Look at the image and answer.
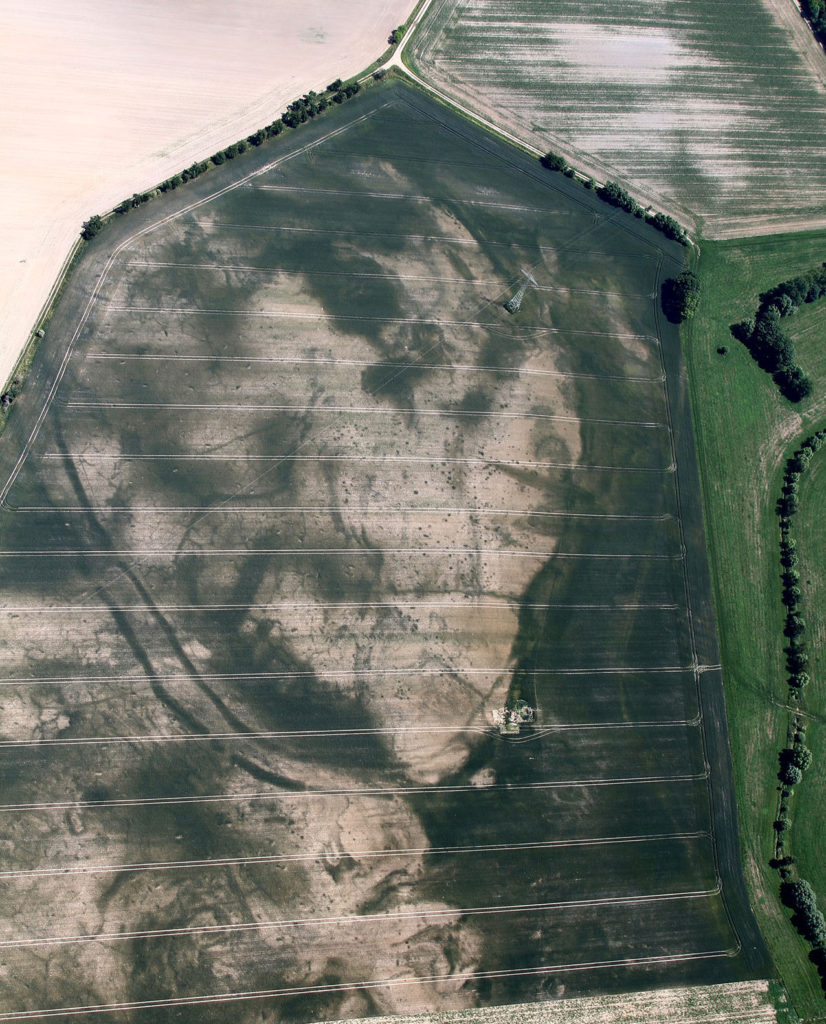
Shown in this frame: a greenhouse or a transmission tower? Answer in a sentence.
I can see a transmission tower in this picture.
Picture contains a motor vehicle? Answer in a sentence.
No, no motor vehicle is visible in the view.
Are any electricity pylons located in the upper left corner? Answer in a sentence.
No, the scene shows no electricity pylon in the upper left corner.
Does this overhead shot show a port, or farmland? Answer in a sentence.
The area seen from above is farmland.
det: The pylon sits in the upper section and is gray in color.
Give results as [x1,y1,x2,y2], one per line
[503,268,538,315]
